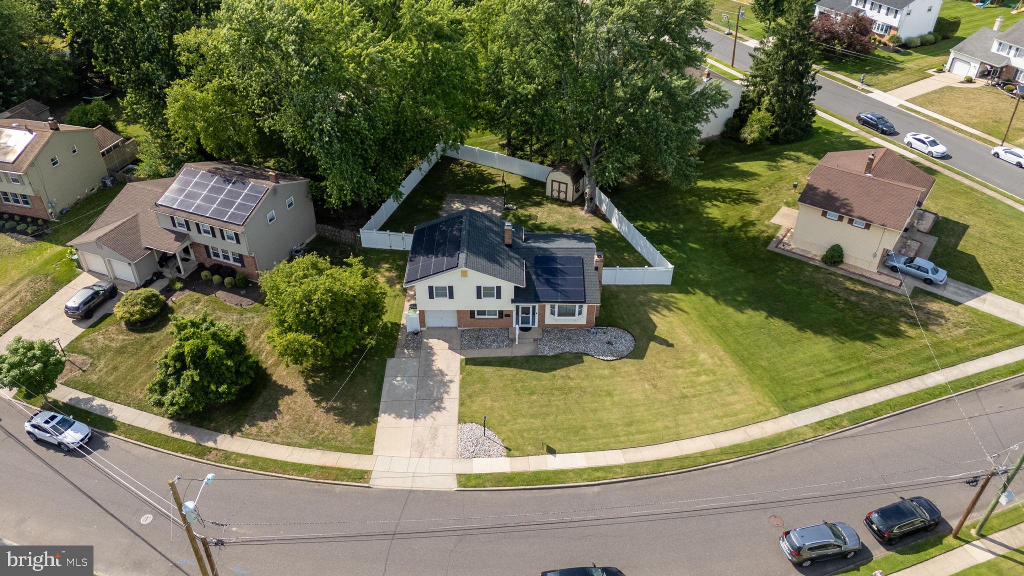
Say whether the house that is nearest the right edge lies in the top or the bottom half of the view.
top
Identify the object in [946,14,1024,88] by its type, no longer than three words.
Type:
house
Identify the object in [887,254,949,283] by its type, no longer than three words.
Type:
car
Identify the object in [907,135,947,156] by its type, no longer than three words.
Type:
car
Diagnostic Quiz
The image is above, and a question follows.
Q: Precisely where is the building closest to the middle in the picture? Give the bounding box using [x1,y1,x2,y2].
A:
[401,208,607,339]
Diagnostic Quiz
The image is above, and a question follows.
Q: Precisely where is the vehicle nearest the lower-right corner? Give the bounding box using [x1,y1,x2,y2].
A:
[864,493,944,544]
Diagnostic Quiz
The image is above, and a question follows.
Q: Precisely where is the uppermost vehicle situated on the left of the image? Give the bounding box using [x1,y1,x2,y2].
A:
[62,282,116,318]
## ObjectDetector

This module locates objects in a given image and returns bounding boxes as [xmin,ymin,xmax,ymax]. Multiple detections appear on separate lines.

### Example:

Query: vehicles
[859,113,895,133]
[864,493,944,544]
[62,282,116,318]
[543,561,625,576]
[20,407,91,449]
[907,135,947,156]
[887,254,949,283]
[778,514,865,564]
[994,148,1024,167]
